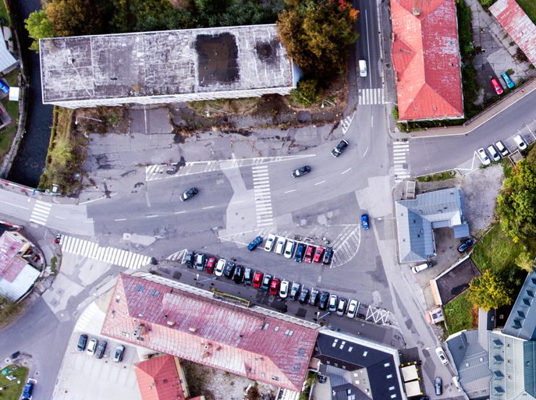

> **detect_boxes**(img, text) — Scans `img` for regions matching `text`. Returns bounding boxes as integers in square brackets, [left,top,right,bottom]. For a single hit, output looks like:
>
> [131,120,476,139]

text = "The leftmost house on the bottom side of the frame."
[0,230,53,296]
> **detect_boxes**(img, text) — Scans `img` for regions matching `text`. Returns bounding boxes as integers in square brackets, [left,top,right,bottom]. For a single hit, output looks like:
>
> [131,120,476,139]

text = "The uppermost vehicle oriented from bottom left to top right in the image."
[333,139,349,158]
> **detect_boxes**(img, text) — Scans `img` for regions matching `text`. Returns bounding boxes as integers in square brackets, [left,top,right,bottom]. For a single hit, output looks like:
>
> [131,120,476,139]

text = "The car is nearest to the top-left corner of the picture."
[179,186,199,200]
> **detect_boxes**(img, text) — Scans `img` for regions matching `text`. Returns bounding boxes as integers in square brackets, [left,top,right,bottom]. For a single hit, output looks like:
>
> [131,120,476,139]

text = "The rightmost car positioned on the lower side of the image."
[457,237,474,253]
